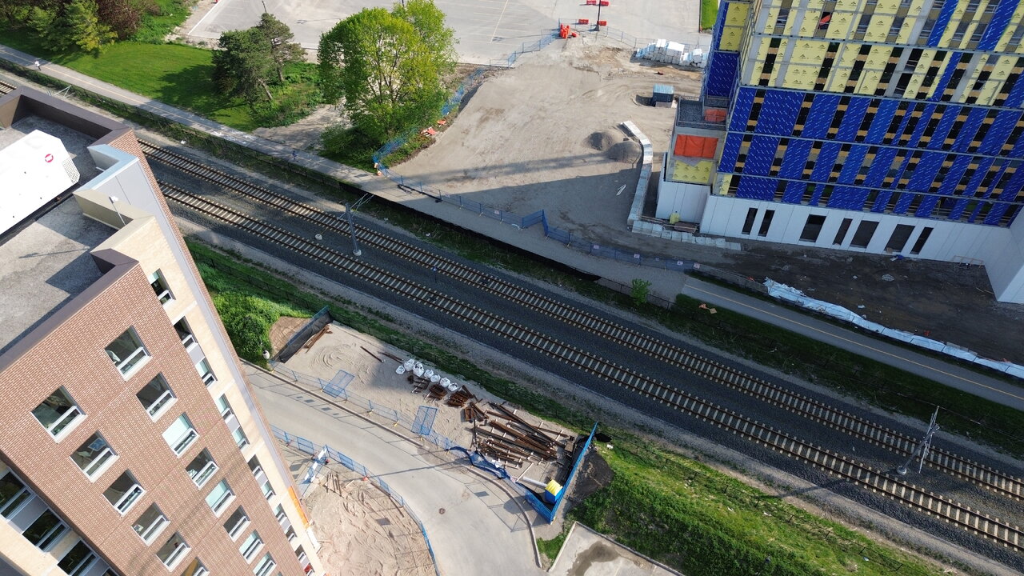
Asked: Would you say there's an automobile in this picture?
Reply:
No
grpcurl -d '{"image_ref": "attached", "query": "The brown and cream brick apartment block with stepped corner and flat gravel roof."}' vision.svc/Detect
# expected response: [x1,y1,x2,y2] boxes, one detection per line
[0,87,327,576]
